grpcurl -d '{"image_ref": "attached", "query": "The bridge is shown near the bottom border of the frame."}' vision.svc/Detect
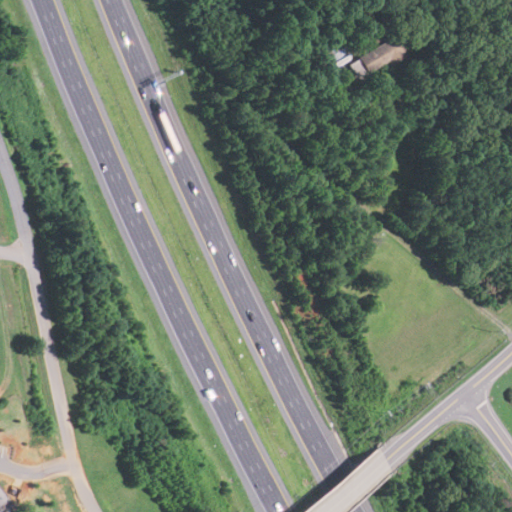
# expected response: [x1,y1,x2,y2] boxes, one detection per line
[306,444,402,512]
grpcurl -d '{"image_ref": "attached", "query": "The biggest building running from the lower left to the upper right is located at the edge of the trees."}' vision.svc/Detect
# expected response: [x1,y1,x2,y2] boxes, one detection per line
[360,41,404,73]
